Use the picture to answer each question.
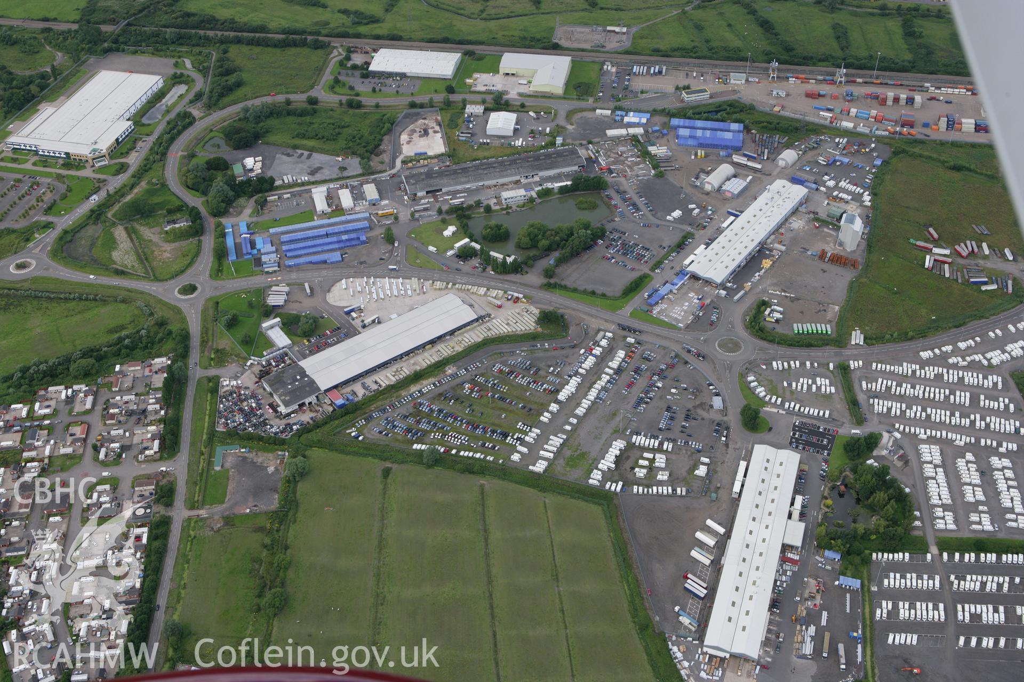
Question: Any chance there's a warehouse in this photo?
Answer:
Yes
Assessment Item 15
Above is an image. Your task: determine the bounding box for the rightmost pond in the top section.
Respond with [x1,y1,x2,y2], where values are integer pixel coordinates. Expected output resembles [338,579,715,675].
[468,192,611,259]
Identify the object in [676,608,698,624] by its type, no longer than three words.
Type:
vehicle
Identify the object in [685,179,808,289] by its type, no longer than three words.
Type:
warehouse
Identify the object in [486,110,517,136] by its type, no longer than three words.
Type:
building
